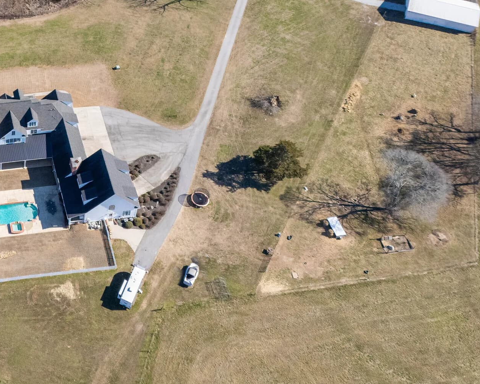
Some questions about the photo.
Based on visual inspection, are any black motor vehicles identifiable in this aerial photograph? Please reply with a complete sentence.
No, there appears to be no black motor vehicle in this shot.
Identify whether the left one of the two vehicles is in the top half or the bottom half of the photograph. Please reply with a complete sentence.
Seen from above, the left one of the two vehicles lies in the bottom half of the view.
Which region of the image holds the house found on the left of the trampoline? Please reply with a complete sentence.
The house found on the left of the trampoline sits in the left section of the image.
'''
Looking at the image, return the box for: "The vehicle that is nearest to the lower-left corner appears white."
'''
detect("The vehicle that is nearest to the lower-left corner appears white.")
[115,266,147,312]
